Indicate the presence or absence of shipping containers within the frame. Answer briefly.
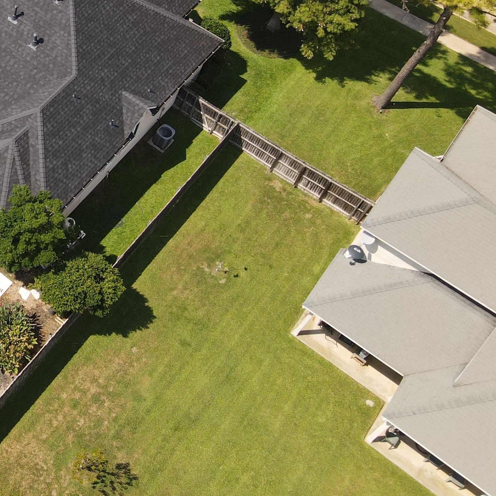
No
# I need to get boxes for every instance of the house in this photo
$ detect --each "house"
[295,105,496,496]
[0,0,224,234]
